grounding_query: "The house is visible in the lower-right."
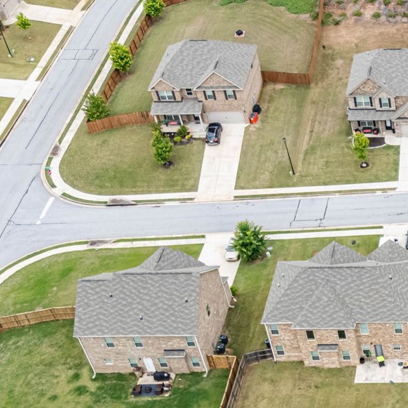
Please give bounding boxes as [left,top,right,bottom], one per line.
[261,238,408,366]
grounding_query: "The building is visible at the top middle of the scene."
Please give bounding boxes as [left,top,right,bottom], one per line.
[148,42,267,131]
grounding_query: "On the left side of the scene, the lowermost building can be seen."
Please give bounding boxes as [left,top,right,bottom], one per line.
[72,245,240,376]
